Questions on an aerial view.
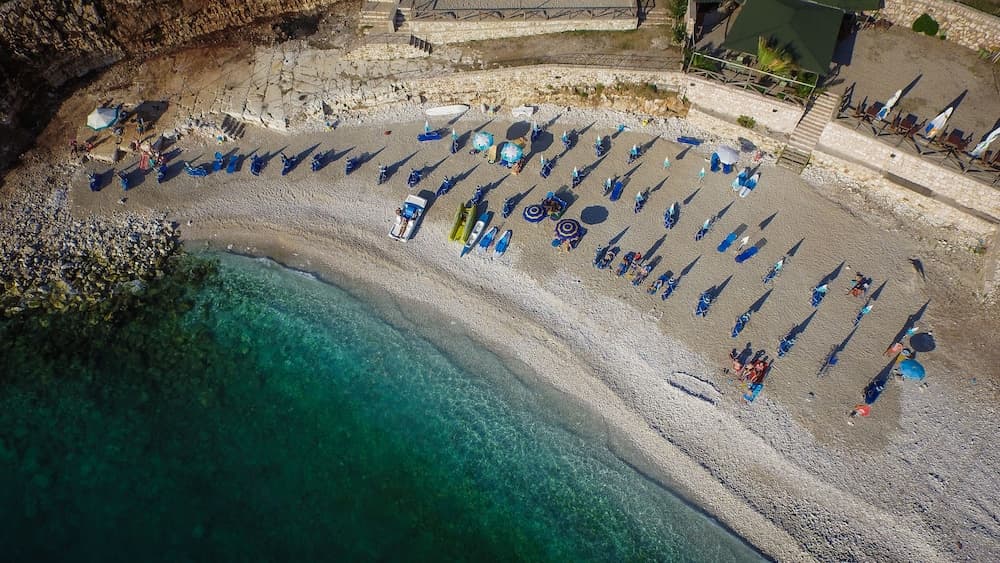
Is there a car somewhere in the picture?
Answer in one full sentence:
No, the frame has no car in it.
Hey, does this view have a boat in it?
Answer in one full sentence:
Yes, there's a boat here.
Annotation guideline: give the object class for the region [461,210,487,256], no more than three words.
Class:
boat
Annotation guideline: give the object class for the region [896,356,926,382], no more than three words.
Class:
umbrella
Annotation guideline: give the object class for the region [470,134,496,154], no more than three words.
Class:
umbrella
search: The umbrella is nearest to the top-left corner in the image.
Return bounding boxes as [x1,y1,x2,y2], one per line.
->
[85,107,125,141]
